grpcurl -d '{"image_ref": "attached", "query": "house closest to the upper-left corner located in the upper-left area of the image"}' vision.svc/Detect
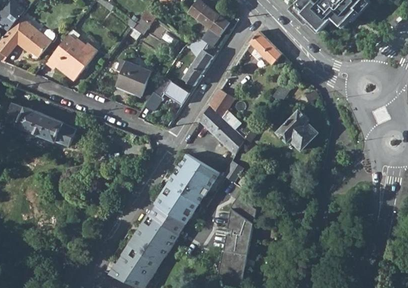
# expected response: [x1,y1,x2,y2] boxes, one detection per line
[0,0,30,31]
